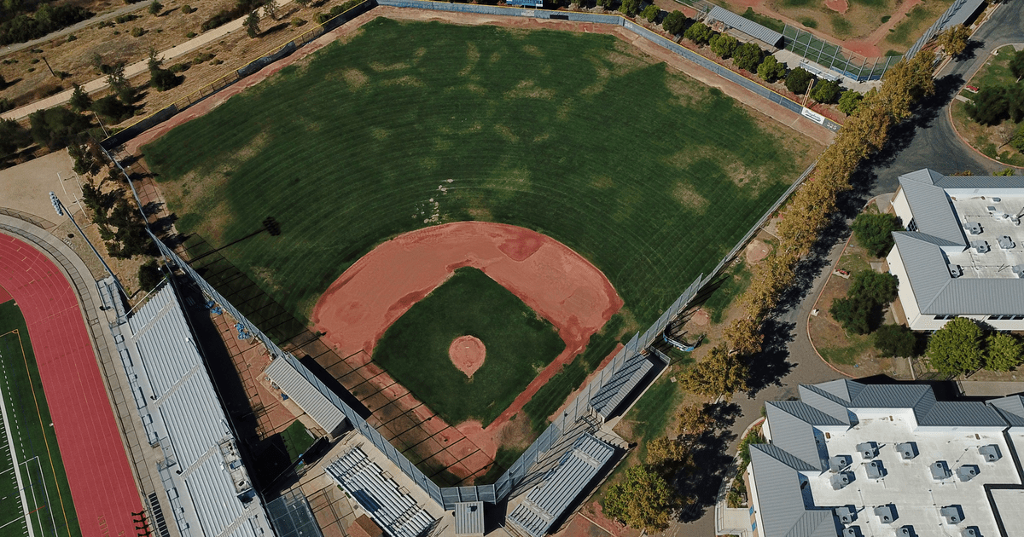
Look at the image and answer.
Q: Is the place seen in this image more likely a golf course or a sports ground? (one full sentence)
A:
This image shows a sports ground.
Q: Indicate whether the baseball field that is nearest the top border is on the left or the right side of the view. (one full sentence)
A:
The baseball field that is nearest the top border is on the right side of the image.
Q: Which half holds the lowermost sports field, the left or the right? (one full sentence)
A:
The lowermost sports field appears in the left half of the scene.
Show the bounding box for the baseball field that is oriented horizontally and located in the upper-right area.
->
[701,0,969,82]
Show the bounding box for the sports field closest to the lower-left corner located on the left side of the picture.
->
[0,300,82,537]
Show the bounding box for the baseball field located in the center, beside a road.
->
[105,6,837,510]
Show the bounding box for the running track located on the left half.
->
[0,233,148,537]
